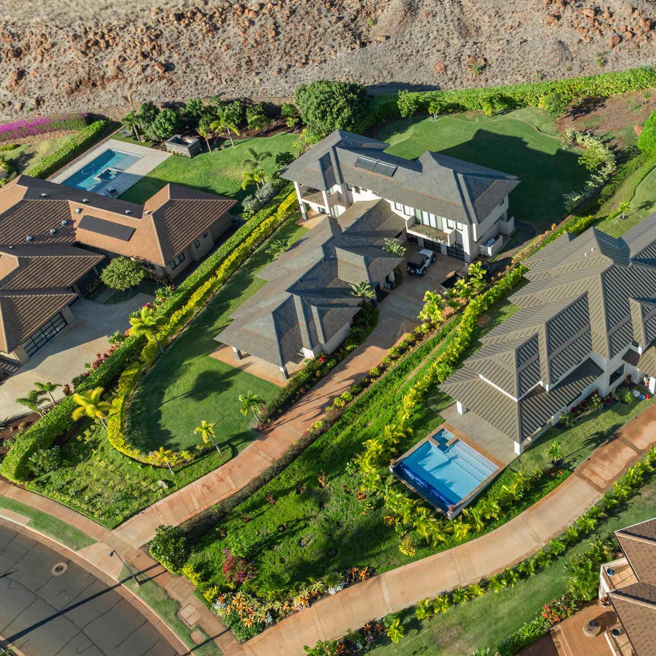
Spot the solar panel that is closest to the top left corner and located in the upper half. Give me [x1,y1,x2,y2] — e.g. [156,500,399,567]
[77,215,135,241]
